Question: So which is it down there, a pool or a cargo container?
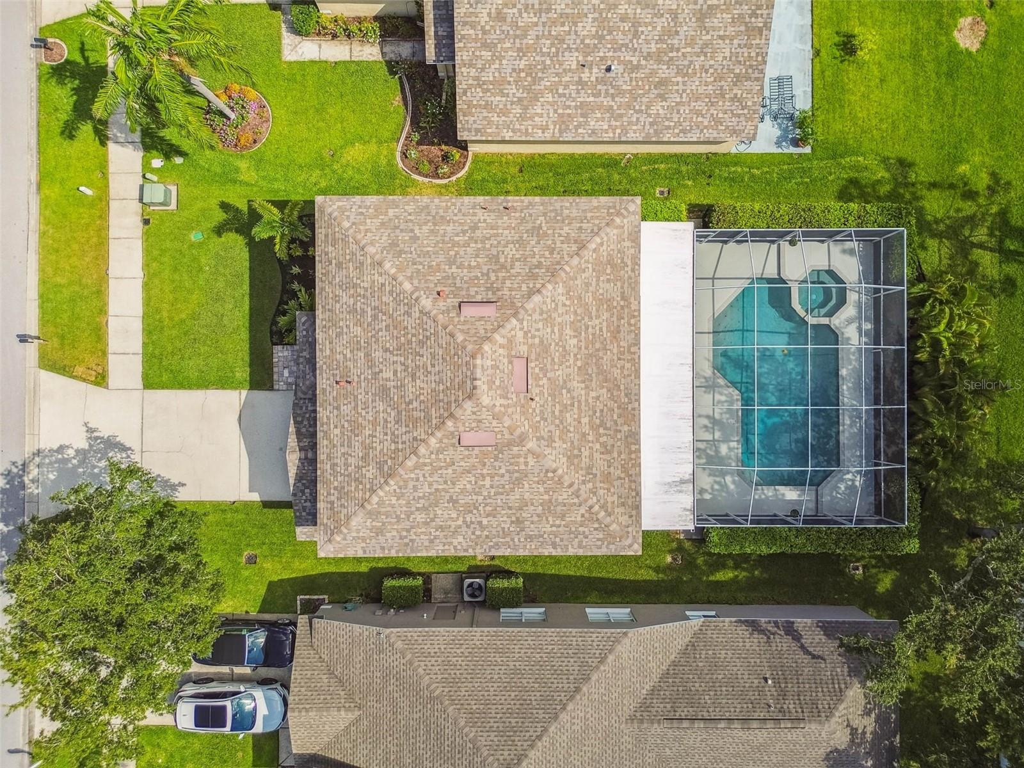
pool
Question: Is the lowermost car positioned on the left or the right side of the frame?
left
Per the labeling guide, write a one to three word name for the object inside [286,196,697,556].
house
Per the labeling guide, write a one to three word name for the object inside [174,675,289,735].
car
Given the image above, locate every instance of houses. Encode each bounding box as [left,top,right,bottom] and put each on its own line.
[289,600,899,768]
[286,196,697,556]
[307,0,774,153]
